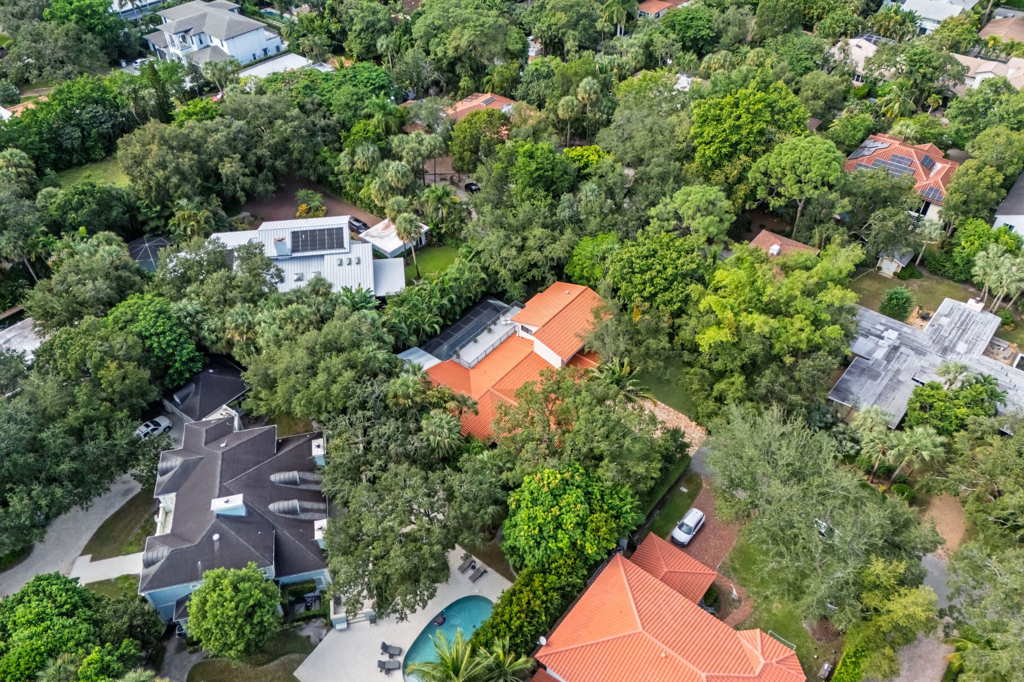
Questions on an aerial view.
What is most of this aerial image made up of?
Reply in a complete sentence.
The scene is dominated by trees.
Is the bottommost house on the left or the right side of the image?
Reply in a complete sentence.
The bottommost house appears in the right half of the scene.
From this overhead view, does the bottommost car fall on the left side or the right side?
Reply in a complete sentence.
The bottommost car is on the right side of the image.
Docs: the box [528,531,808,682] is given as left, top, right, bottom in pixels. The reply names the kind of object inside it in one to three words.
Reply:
house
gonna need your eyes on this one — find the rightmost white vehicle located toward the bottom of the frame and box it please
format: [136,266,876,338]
[669,505,708,550]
